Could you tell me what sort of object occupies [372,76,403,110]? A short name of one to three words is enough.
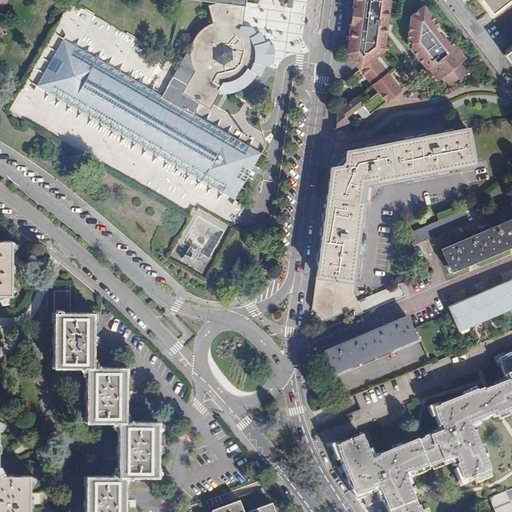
house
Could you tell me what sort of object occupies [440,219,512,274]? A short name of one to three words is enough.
building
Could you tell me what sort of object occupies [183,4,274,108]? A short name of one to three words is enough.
building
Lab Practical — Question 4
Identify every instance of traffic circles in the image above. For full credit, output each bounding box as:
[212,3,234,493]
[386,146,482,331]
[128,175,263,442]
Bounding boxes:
[210,330,268,396]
